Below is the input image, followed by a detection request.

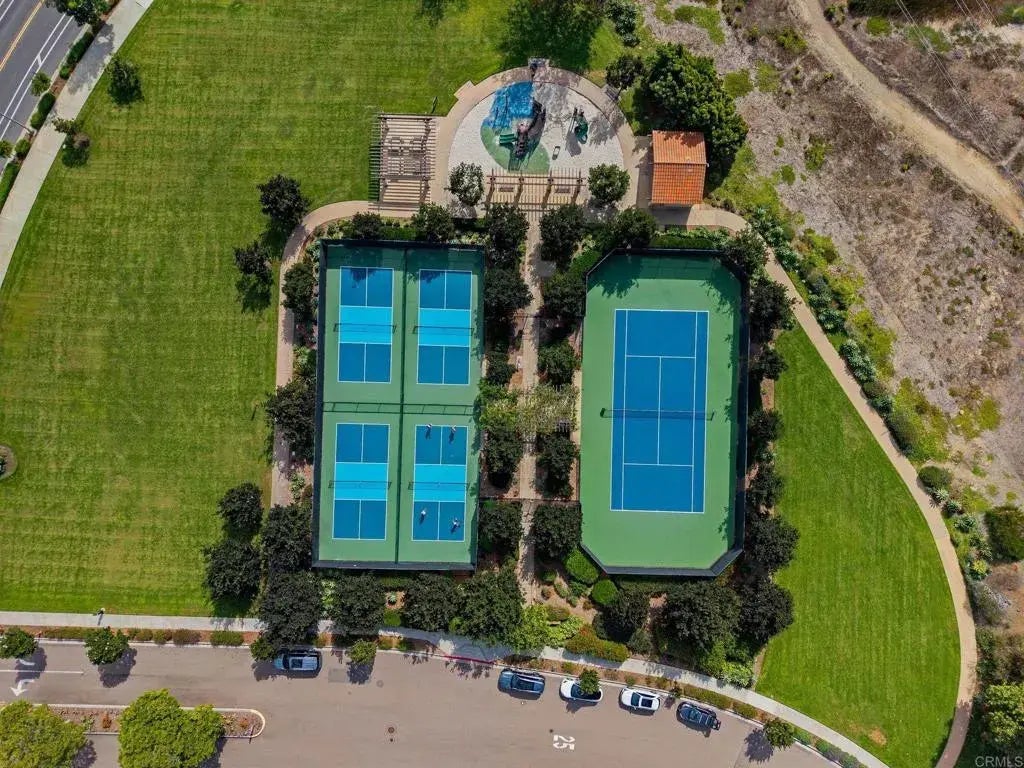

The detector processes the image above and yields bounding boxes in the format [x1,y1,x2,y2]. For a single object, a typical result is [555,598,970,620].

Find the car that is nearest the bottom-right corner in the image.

[676,700,721,728]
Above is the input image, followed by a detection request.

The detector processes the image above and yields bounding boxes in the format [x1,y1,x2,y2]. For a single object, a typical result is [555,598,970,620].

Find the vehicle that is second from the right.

[618,687,660,711]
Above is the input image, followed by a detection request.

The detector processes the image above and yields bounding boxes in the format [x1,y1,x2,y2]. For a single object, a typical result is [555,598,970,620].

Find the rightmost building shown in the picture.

[649,131,708,205]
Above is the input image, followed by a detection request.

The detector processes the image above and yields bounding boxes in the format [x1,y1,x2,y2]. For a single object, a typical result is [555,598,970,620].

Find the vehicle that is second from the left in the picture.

[499,668,544,694]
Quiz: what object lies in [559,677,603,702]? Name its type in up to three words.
car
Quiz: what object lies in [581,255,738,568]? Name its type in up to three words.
tennis court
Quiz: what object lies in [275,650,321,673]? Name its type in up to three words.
car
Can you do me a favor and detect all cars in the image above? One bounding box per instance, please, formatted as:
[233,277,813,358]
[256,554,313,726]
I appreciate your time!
[559,677,603,702]
[499,668,544,694]
[676,700,721,728]
[275,650,321,673]
[618,687,660,711]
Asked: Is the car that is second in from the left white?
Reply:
No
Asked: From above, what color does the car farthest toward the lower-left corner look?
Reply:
blue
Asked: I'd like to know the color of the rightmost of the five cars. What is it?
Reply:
blue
